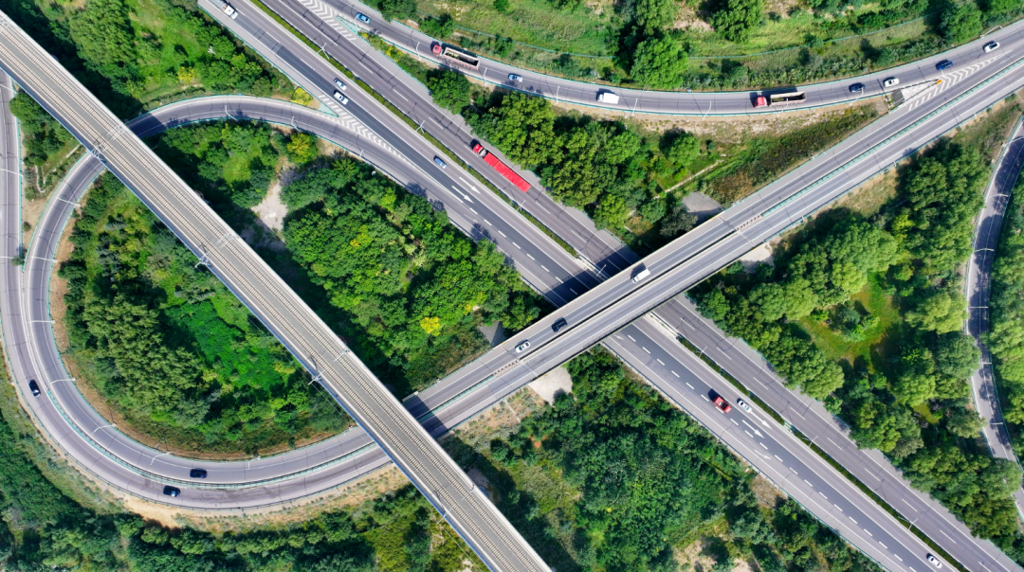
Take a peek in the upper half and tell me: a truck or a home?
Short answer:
truck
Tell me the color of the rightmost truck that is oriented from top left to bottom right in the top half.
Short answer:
red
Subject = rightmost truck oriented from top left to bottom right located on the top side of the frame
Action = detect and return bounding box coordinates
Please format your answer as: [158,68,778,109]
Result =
[473,141,536,195]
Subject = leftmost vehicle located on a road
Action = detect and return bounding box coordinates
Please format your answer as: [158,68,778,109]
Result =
[29,379,41,396]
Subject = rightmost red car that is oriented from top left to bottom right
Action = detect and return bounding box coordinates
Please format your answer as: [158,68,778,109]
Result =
[713,396,731,412]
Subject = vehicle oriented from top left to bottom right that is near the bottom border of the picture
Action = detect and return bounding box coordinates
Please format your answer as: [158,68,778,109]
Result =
[925,554,941,568]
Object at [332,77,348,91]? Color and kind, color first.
white car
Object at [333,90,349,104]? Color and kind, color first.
white car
